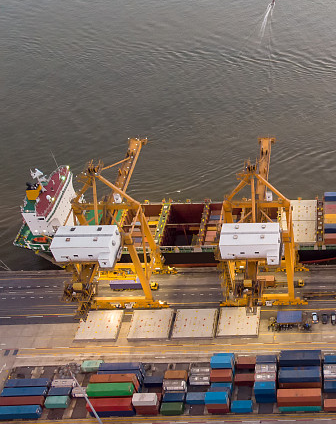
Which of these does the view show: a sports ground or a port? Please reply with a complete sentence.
This image shows a port.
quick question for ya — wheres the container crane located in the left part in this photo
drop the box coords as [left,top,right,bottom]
[51,138,185,317]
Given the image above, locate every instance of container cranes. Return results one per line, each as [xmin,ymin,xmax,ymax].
[51,138,185,317]
[208,136,316,314]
